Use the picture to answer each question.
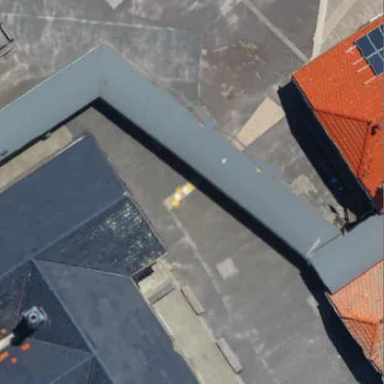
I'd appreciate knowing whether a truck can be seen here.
No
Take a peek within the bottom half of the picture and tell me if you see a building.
Yes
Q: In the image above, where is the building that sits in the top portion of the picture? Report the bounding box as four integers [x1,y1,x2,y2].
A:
[291,19,384,209]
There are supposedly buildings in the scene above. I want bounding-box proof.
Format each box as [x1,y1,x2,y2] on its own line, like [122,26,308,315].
[0,137,203,384]
[291,19,384,209]
[326,258,384,382]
